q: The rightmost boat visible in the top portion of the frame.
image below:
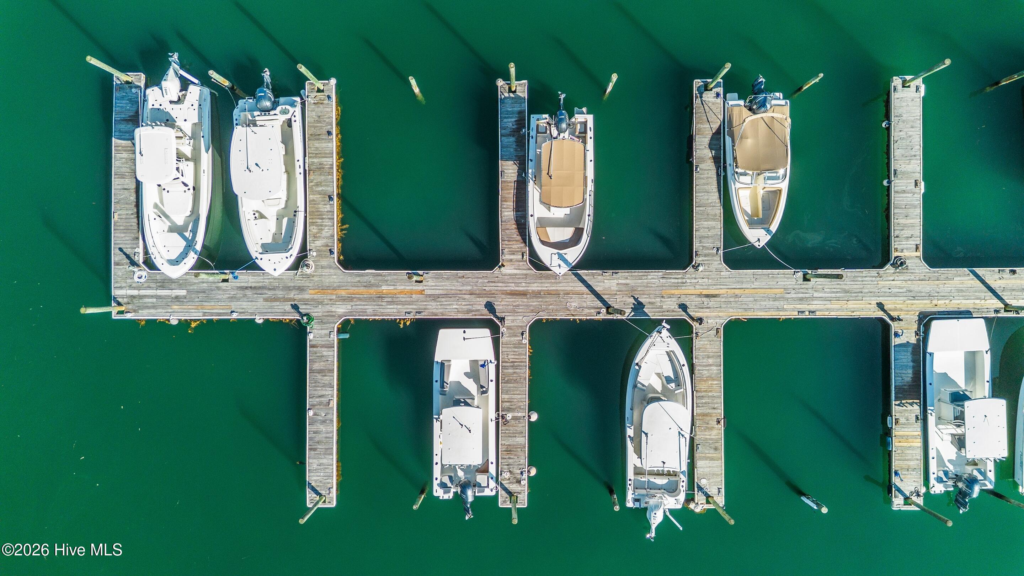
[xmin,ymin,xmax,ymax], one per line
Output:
[722,72,791,249]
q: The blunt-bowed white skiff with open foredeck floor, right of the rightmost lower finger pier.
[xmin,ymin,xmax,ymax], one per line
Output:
[923,319,1011,516]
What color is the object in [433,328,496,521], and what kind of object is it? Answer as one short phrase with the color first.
white boat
